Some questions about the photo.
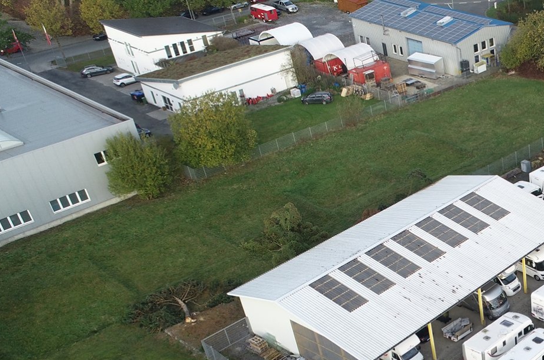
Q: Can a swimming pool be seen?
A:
No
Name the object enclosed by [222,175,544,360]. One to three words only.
shed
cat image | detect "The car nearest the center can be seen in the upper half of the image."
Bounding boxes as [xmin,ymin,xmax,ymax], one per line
[299,92,331,107]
